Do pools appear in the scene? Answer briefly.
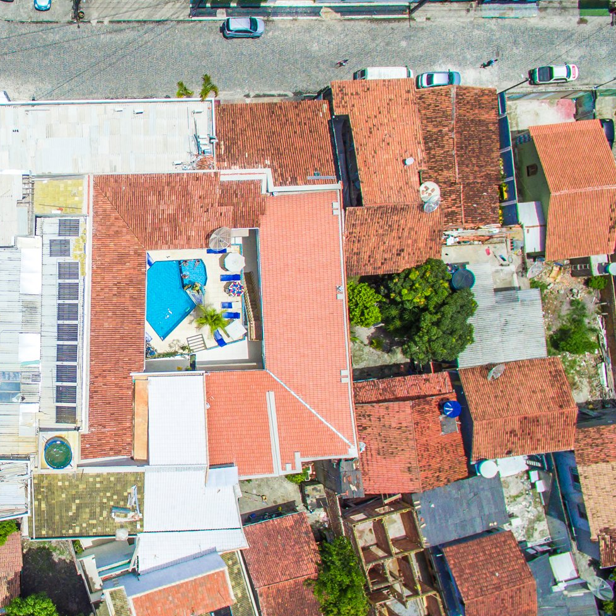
Yes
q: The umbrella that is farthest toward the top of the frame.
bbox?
[222,252,244,273]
